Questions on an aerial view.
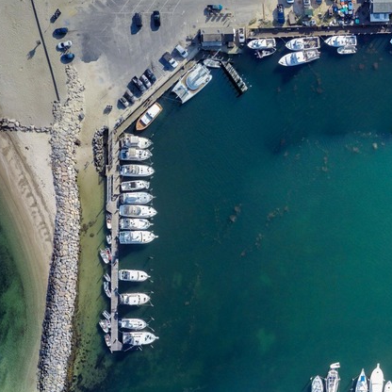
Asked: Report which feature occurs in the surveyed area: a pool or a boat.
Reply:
boat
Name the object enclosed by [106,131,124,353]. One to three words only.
pier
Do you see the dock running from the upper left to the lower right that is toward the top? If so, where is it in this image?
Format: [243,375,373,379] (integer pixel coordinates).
[218,60,251,98]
